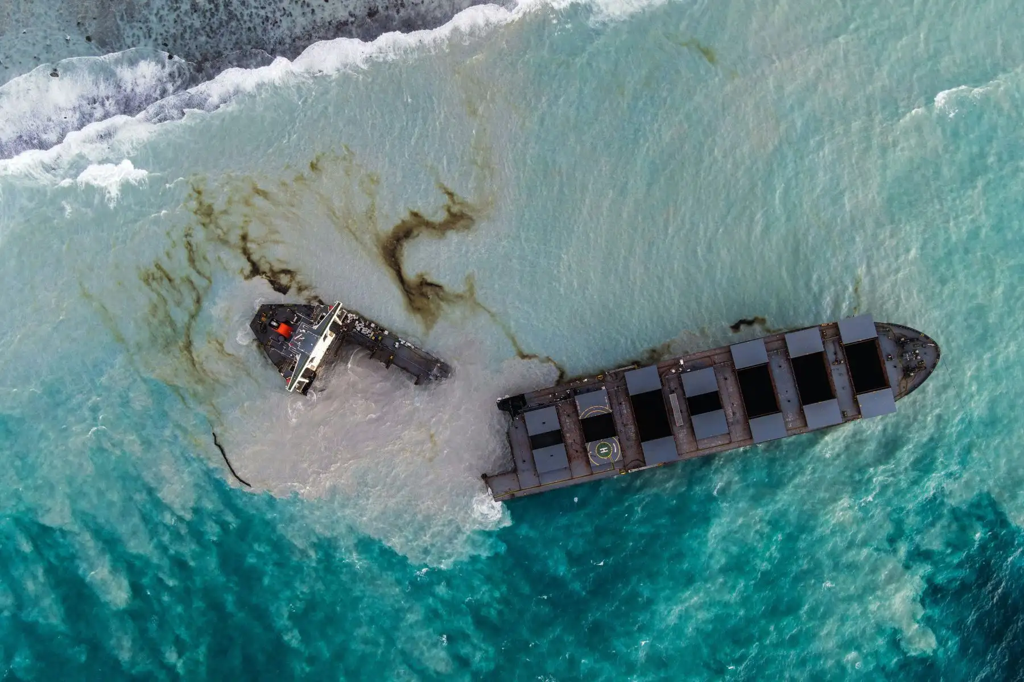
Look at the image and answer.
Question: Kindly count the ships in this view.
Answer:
2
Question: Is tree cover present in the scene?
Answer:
No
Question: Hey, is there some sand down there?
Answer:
No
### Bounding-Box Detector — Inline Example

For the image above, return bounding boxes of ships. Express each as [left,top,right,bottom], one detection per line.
[250,301,450,396]
[480,313,940,502]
